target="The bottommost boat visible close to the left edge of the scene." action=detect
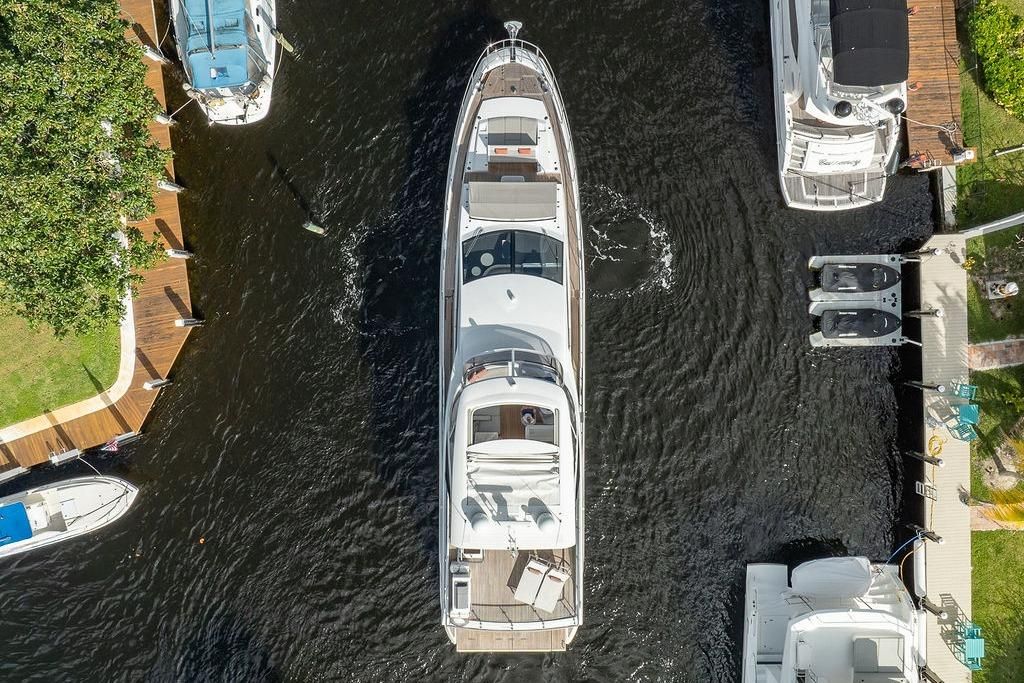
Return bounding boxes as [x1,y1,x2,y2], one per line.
[0,474,143,557]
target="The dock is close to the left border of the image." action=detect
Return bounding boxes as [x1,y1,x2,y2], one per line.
[0,0,196,473]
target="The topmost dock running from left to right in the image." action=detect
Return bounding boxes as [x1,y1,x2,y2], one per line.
[806,256,900,302]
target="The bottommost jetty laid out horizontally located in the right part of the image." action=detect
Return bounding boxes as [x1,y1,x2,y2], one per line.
[806,301,900,347]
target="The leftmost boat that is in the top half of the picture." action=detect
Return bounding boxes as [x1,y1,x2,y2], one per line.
[171,0,280,127]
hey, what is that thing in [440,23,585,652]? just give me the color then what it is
white boat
